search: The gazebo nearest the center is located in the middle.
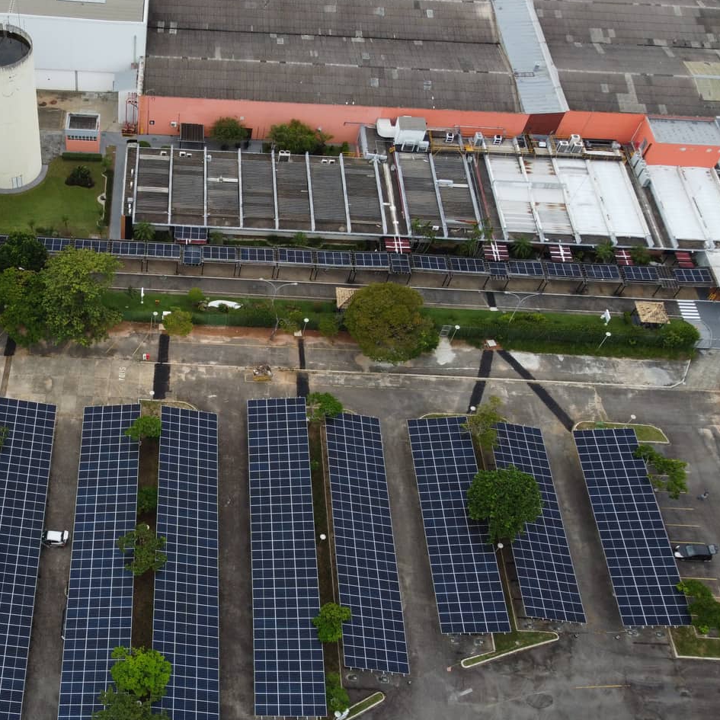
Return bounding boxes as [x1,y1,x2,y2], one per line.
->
[333,287,361,320]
